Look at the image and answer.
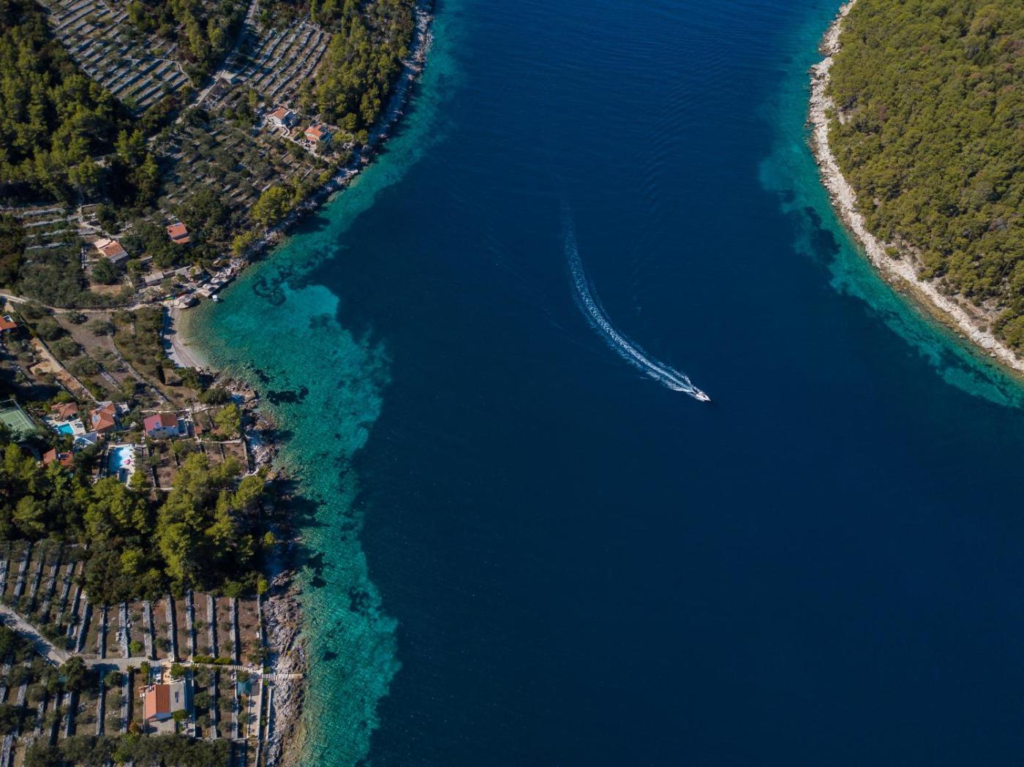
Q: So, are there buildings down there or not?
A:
Yes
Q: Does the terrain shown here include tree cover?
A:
Yes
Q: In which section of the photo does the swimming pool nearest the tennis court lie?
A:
left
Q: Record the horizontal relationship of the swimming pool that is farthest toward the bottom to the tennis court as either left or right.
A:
to its right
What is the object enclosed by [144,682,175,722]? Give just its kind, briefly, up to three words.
house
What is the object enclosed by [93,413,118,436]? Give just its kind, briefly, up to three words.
house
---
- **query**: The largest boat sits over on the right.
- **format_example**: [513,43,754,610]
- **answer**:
[691,385,710,398]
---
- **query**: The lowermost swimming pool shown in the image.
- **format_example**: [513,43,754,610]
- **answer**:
[107,441,137,484]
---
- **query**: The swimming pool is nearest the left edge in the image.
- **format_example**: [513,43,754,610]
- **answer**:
[49,416,86,439]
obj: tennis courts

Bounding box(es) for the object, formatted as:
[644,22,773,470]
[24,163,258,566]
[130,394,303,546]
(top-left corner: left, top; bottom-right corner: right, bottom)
[0,392,46,455]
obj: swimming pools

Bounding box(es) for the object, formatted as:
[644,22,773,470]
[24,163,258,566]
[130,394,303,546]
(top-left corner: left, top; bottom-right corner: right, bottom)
[49,416,86,439]
[107,441,137,484]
